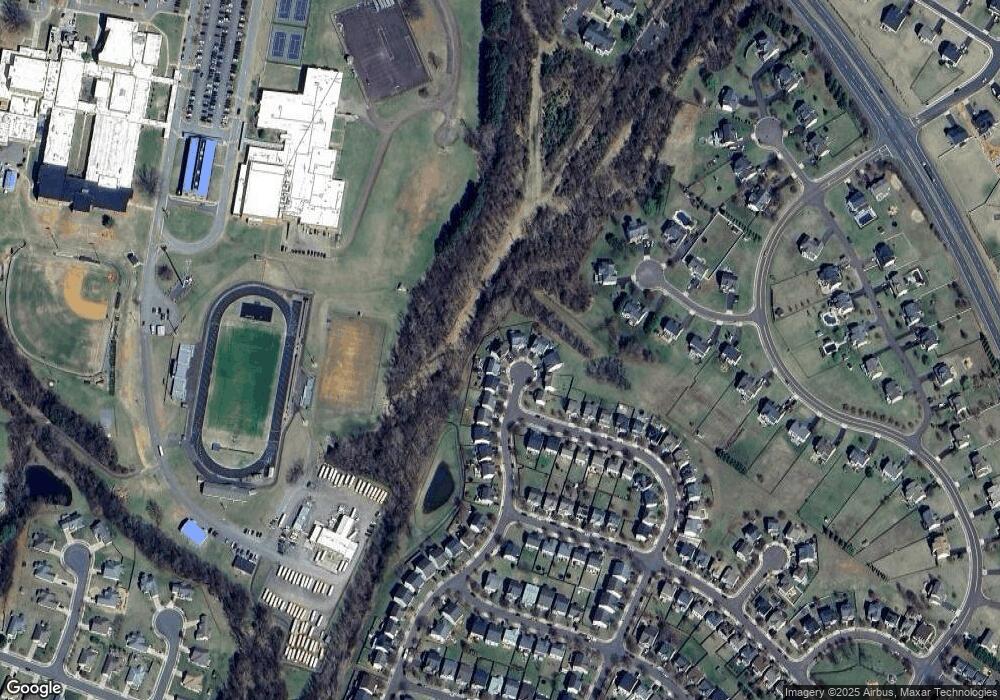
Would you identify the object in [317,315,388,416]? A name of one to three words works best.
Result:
sports field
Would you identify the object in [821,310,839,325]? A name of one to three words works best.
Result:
swimming pool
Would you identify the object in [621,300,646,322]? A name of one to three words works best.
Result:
house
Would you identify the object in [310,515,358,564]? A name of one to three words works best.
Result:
building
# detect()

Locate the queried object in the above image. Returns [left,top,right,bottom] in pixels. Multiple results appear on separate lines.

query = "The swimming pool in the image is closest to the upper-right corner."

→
[856,210,876,225]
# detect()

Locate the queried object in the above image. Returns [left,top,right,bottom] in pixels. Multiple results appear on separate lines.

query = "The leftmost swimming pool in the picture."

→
[674,209,695,227]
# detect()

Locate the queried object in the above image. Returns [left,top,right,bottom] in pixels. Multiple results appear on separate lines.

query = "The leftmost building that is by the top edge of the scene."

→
[0,18,182,215]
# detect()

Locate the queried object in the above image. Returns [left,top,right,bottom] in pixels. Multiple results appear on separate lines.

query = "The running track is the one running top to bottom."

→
[192,281,295,478]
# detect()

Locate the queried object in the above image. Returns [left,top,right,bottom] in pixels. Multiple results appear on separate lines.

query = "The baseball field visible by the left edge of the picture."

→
[8,244,116,375]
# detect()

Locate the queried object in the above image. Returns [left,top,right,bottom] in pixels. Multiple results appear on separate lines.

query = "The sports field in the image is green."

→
[207,326,282,434]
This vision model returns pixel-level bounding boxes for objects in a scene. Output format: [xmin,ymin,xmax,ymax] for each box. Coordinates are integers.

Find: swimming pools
[821,310,839,325]
[674,209,695,227]
[820,342,839,354]
[856,210,876,225]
